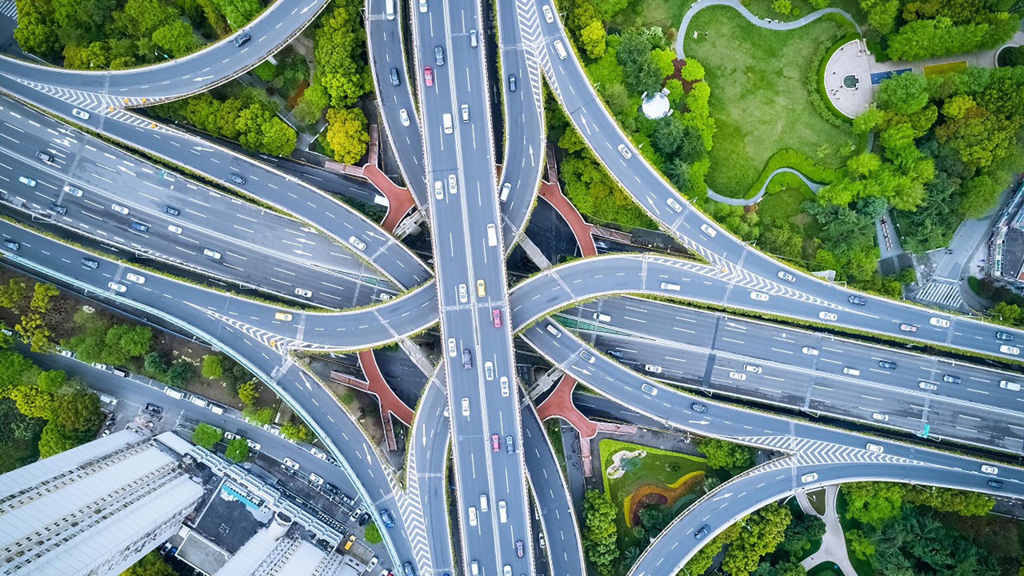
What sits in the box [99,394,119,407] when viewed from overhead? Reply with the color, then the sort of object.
white vehicle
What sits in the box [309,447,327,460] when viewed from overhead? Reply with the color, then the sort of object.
white vehicle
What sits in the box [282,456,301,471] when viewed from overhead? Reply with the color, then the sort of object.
white car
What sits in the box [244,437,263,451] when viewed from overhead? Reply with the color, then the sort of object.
white car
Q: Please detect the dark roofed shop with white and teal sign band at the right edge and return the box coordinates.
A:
[987,226,1024,283]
